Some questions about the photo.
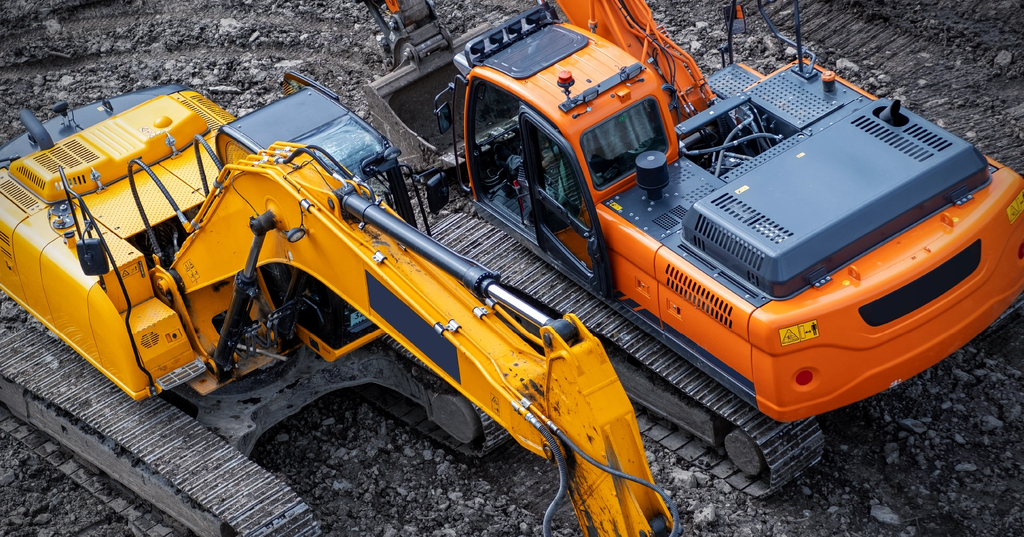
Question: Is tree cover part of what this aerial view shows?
No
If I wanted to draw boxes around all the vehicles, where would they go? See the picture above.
[364,0,1020,497]
[0,72,684,537]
